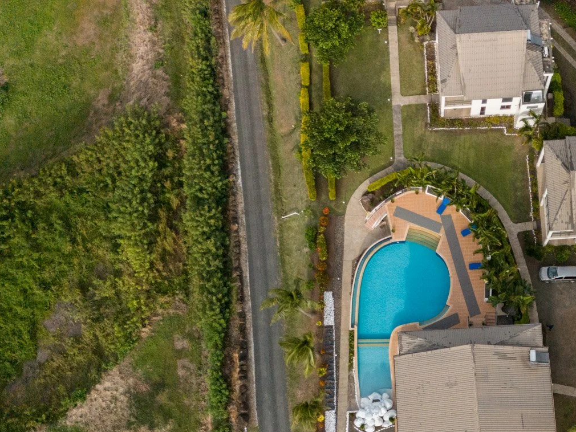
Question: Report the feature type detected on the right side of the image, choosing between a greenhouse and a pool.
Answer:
pool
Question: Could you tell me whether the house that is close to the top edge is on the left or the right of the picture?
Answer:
right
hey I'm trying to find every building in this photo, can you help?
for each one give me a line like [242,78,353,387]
[538,137,576,244]
[436,0,554,123]
[395,324,557,432]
